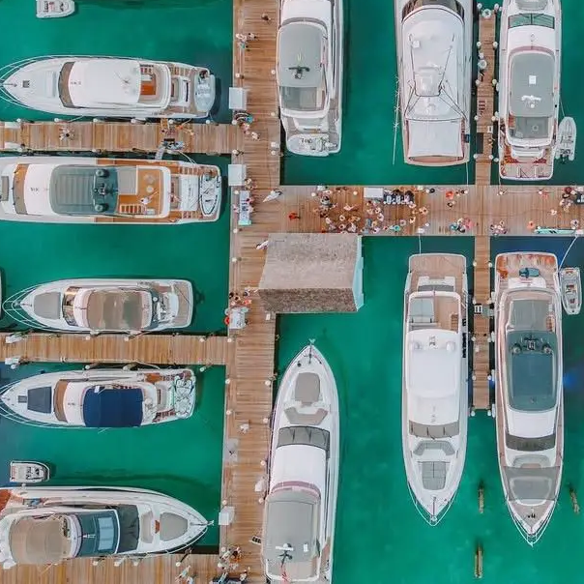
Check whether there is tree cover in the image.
No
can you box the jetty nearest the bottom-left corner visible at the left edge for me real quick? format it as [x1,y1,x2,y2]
[0,551,223,584]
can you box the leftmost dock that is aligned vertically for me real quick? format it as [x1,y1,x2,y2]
[222,0,282,584]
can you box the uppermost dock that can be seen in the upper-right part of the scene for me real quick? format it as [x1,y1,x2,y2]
[476,8,497,187]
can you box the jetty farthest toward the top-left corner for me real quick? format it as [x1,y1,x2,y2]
[0,121,232,154]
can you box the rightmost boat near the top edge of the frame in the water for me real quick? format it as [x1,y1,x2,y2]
[497,0,562,179]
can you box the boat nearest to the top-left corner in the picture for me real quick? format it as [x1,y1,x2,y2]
[35,0,74,17]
